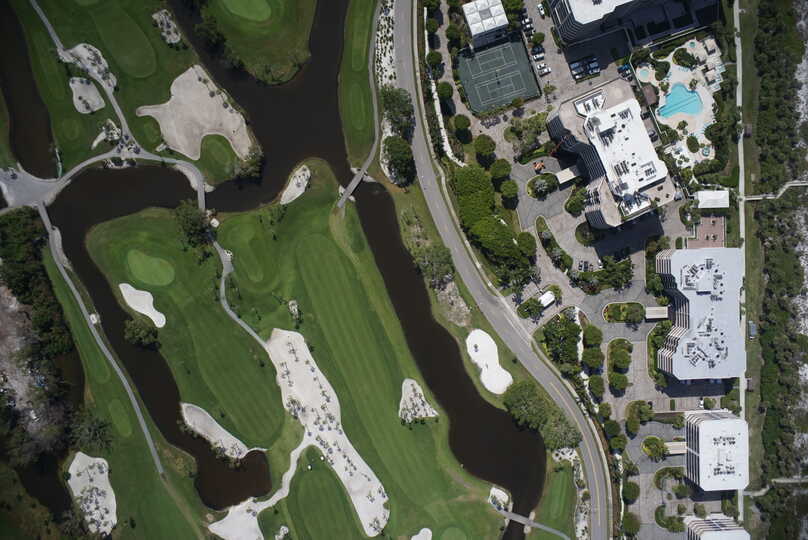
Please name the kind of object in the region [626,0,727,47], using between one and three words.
building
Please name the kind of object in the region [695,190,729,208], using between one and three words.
building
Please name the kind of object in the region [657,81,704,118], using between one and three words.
swimming pool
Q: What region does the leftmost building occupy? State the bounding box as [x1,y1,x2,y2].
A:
[462,0,507,39]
